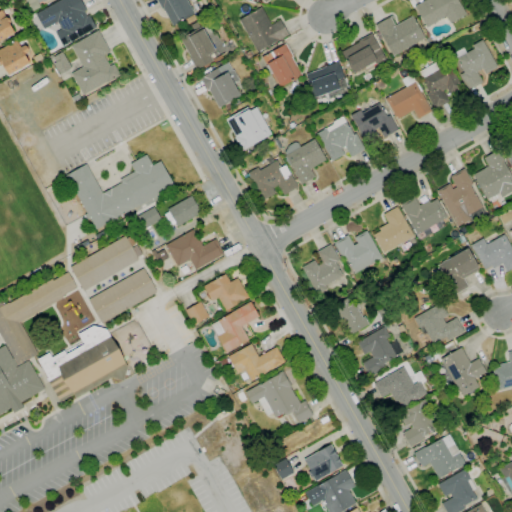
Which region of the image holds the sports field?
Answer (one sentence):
The sports field appears toward the left of the photo.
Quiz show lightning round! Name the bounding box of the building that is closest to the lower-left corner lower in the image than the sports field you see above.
[0,345,44,416]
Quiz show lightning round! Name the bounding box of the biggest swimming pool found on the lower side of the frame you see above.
[204,328,218,348]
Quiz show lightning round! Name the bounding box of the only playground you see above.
[58,291,95,343]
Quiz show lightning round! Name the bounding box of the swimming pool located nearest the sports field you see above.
[40,28,58,50]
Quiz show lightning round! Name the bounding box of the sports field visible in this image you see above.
[0,118,65,289]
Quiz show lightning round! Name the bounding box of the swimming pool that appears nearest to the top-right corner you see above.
[432,24,452,36]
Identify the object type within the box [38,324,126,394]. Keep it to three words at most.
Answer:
building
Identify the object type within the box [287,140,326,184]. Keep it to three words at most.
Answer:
house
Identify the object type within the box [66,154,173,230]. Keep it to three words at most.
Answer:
building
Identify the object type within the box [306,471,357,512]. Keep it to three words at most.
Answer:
house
